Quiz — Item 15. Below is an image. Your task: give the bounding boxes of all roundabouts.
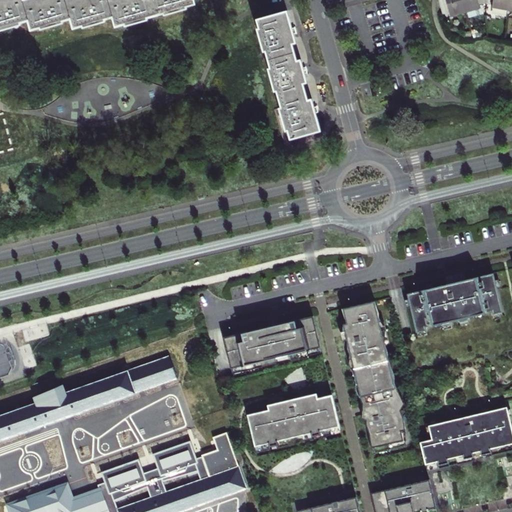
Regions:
[308,150,418,220]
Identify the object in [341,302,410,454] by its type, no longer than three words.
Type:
building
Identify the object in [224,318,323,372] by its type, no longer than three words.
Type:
building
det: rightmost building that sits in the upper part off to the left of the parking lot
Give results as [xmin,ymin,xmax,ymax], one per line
[256,11,321,142]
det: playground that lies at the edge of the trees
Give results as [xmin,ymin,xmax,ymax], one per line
[46,76,158,122]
